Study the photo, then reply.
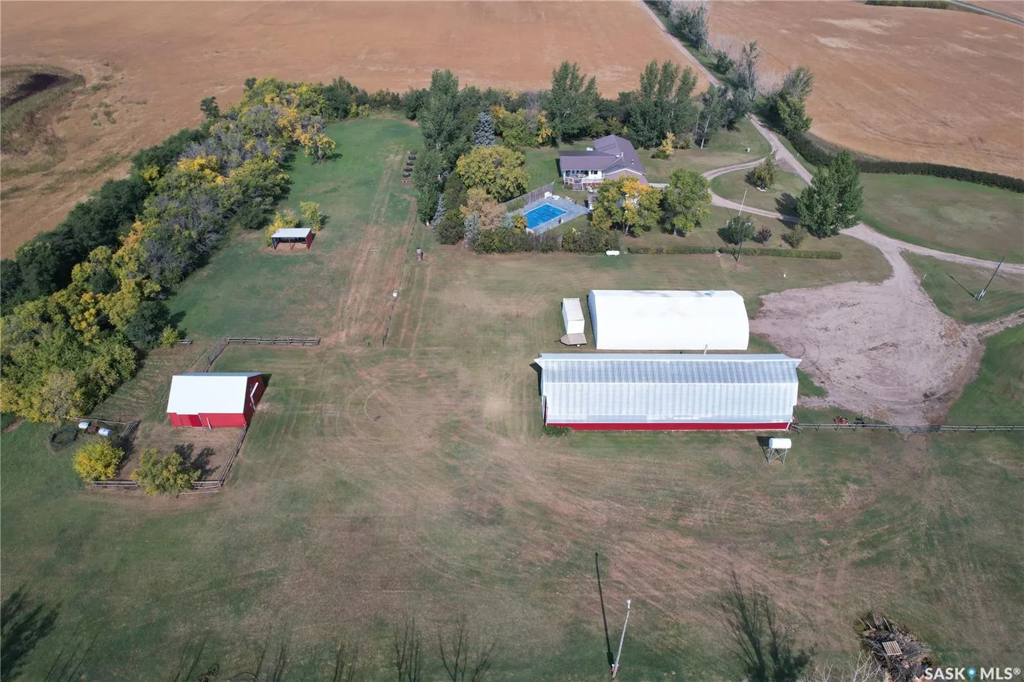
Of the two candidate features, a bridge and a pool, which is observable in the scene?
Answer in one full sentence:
Visible in the photo is a pool.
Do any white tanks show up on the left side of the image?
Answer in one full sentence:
No, no white tank can be made out on the left side of the image.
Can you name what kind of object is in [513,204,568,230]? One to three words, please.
swimming pool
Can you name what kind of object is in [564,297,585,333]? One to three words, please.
trailer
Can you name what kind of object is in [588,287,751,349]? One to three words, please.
shed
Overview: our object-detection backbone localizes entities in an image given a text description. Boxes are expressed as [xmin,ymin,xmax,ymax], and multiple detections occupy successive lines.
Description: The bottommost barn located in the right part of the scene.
[533,343,802,429]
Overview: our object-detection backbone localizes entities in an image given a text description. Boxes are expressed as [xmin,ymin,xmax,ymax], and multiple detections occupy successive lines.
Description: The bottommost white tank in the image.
[762,437,795,465]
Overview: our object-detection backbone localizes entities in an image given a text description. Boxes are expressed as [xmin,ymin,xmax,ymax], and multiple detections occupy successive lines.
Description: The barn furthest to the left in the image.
[163,375,263,429]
